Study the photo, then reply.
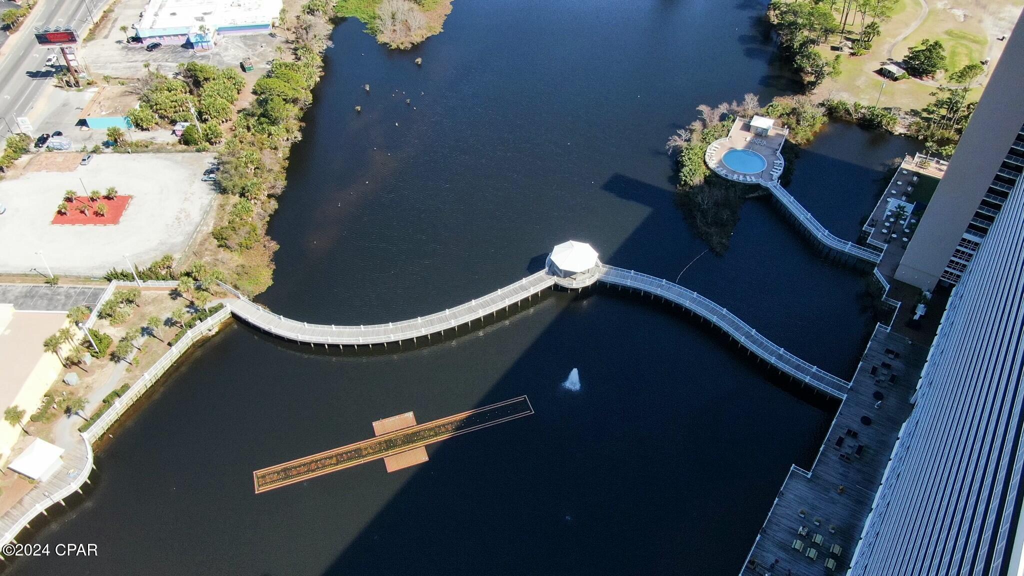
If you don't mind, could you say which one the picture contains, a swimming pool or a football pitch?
swimming pool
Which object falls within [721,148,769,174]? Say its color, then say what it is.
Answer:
blue swimming pool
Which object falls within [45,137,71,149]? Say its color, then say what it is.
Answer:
white vehicle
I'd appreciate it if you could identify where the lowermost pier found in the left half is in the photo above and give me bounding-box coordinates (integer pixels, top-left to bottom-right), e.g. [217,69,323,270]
[383,445,430,472]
